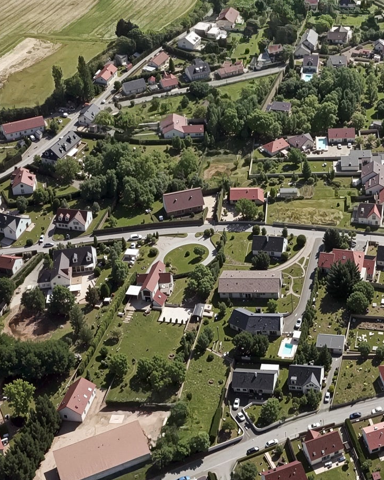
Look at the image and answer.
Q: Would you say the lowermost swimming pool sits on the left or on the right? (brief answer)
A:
right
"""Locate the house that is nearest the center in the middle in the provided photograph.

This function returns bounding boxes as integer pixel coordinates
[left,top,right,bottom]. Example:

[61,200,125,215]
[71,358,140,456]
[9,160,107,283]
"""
[164,186,204,218]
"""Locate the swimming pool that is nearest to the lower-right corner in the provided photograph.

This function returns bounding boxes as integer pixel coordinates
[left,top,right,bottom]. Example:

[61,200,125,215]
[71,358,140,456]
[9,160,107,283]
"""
[278,337,298,358]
